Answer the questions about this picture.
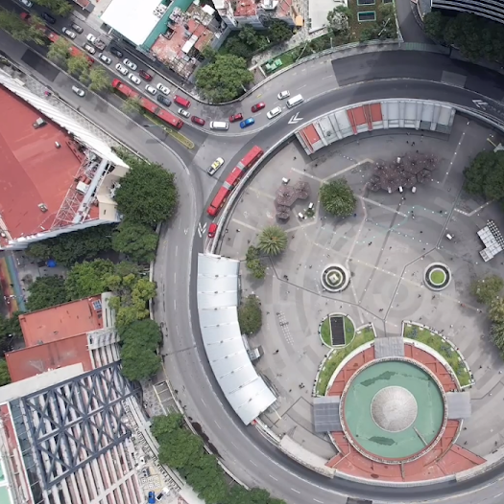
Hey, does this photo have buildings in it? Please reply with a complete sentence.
Yes, you can see a building in this photo.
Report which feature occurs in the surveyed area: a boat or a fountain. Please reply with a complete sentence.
The image shows a fountain.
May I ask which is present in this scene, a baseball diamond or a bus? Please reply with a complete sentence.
The one in the frame is a bus.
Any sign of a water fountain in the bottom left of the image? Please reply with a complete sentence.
No, the scene shows no water fountain in the bottom left of the image.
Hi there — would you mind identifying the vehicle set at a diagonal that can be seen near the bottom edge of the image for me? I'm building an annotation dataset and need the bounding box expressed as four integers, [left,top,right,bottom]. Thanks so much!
[153,486,171,500]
